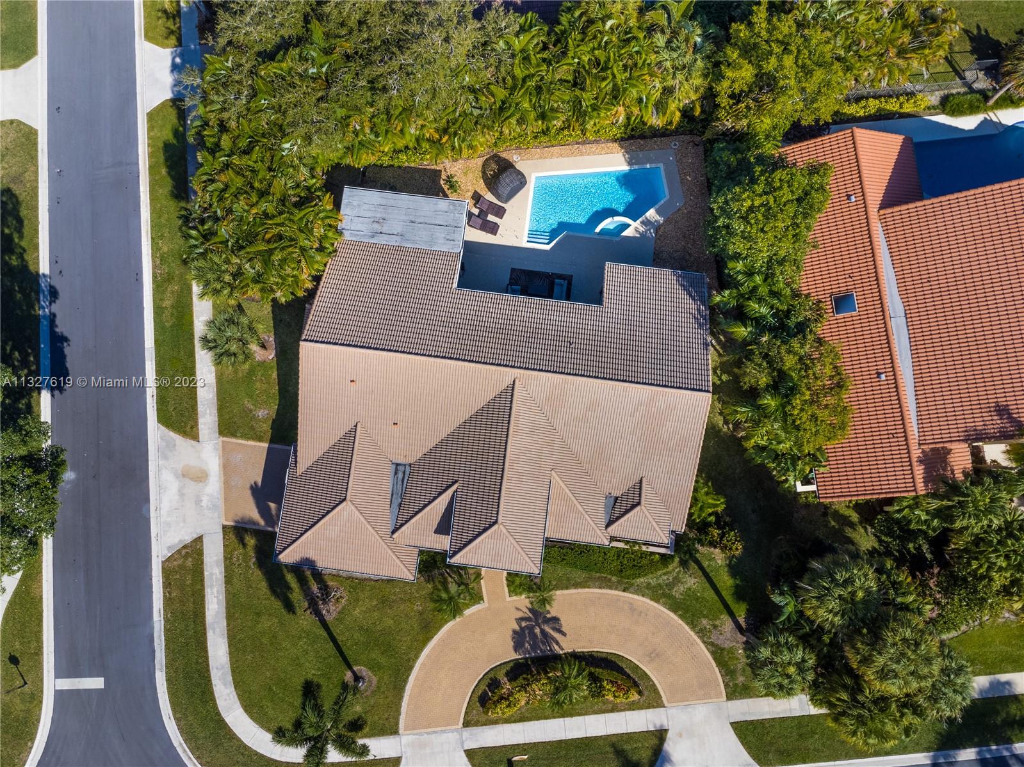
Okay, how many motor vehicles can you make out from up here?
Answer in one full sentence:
Not a single motor vehicle can be seen.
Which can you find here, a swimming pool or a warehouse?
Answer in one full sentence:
I can see a swimming pool in this picture.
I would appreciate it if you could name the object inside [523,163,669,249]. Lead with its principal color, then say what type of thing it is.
blue swimming pool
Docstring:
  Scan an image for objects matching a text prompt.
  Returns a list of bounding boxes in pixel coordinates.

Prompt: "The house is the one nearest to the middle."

[272,185,712,583]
